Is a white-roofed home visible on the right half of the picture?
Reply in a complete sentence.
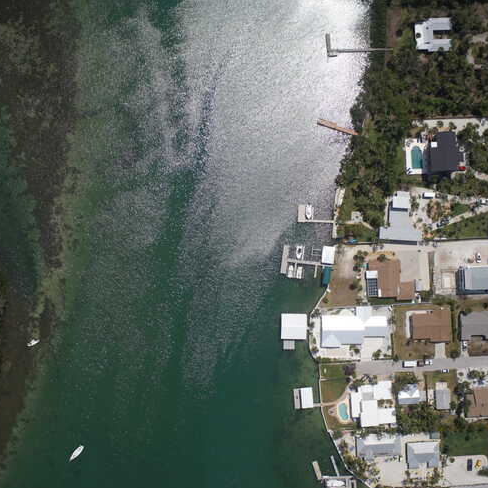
Yes, on the right half of the picture there is a white-roofed home.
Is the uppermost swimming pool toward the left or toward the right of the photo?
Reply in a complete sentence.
You can find the uppermost swimming pool on the right side of the picture.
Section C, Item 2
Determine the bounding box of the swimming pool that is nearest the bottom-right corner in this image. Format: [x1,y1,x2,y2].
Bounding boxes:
[336,397,351,423]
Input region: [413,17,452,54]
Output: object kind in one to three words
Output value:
house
